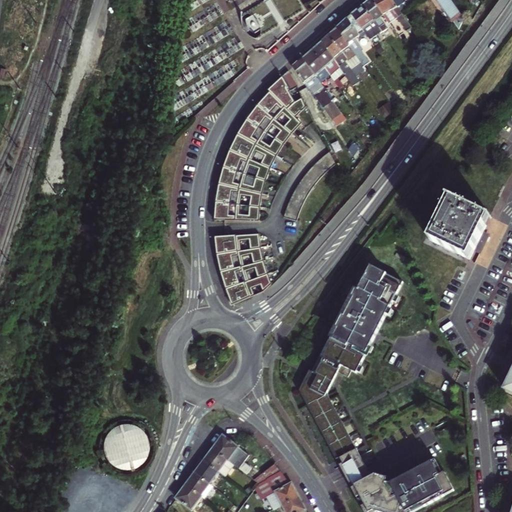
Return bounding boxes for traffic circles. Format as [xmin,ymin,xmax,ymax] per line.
[162,306,262,406]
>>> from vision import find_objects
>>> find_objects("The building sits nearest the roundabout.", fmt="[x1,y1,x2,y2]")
[226,283,250,304]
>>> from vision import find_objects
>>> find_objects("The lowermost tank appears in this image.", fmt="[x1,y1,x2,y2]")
[104,424,152,470]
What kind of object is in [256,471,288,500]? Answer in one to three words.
building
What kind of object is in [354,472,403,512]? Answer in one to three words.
building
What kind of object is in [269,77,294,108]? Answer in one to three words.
house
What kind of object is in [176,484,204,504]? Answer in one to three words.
house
